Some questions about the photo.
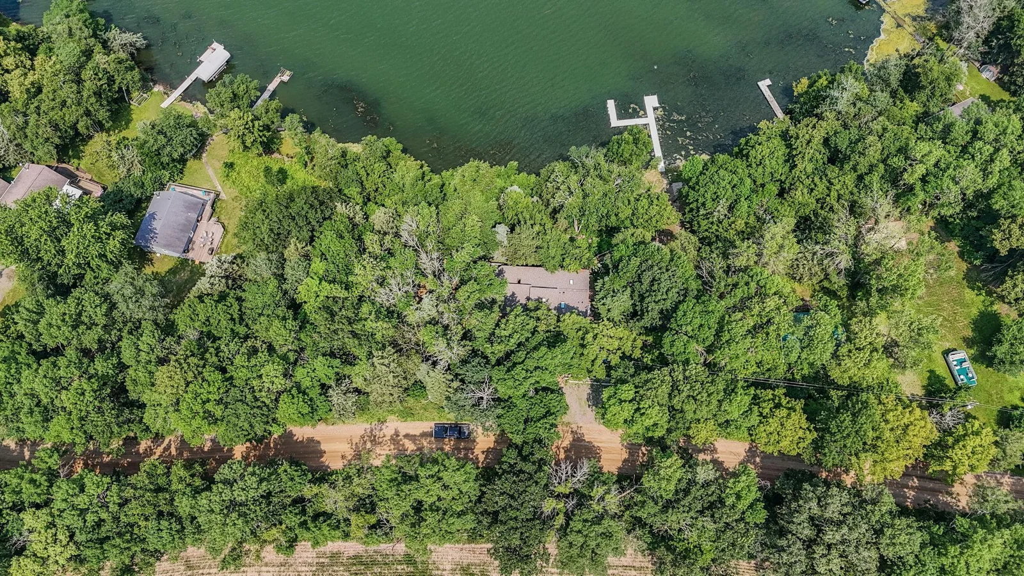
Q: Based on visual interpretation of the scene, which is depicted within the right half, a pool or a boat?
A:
boat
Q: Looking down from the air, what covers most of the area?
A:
trees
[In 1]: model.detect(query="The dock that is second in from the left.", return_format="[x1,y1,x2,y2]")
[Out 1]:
[255,67,294,107]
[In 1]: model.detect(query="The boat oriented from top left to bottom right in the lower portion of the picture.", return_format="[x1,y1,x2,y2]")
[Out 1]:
[943,347,980,393]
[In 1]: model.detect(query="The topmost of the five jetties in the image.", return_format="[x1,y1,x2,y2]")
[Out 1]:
[877,0,926,48]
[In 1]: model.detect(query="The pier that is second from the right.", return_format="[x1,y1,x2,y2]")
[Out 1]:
[757,78,788,126]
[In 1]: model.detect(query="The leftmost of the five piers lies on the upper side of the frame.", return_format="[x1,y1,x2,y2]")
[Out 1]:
[161,36,225,108]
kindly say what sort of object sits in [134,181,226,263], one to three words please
house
